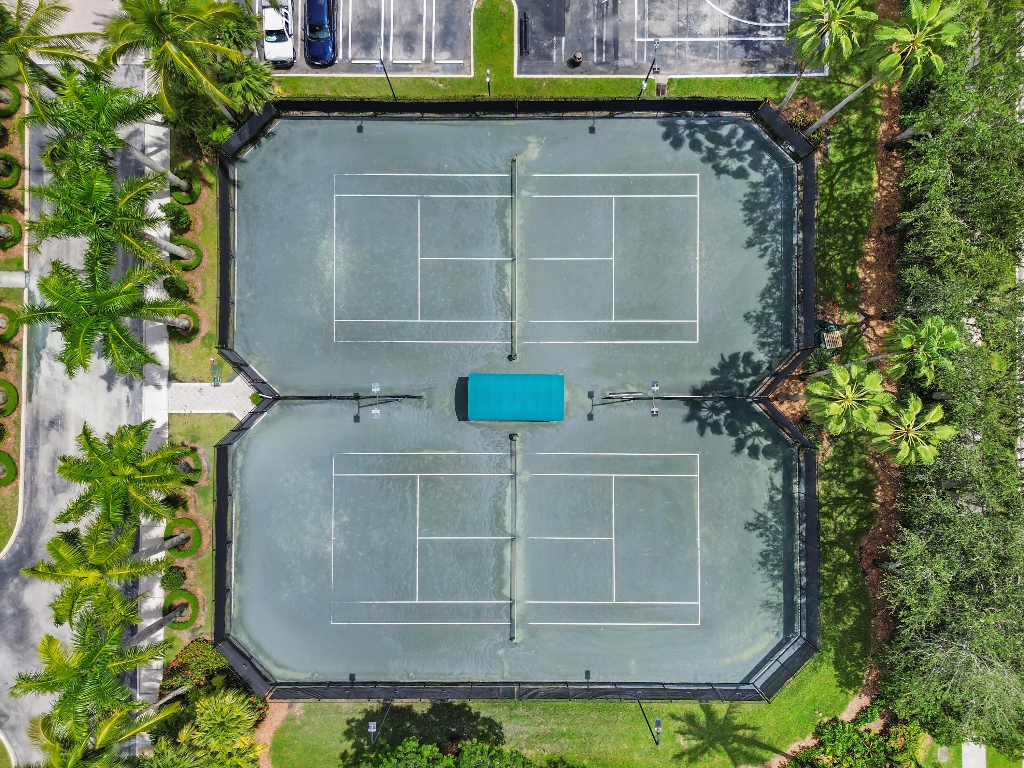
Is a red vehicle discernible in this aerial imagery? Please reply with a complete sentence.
No, this view has no red vehicle in it.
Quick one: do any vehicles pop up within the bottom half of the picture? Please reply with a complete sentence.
No, no vehicle is visible within the bottom half of the picture.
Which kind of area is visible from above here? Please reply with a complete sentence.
This looks like a sports ground.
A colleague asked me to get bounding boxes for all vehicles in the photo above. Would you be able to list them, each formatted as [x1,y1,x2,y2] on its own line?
[260,0,300,68]
[301,0,340,66]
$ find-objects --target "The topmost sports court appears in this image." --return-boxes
[602,0,791,41]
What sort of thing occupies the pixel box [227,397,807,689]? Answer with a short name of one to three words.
tennis court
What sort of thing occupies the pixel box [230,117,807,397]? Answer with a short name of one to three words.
tennis court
